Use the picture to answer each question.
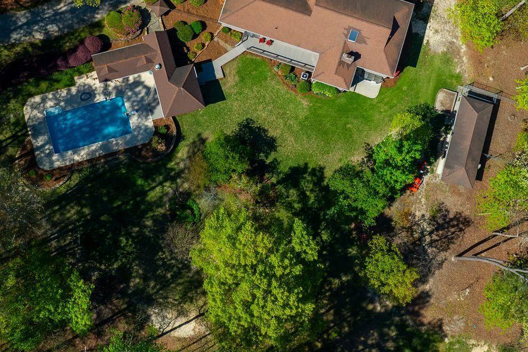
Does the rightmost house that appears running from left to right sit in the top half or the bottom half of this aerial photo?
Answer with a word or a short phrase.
top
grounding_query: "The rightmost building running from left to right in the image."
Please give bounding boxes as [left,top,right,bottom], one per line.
[218,0,415,92]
